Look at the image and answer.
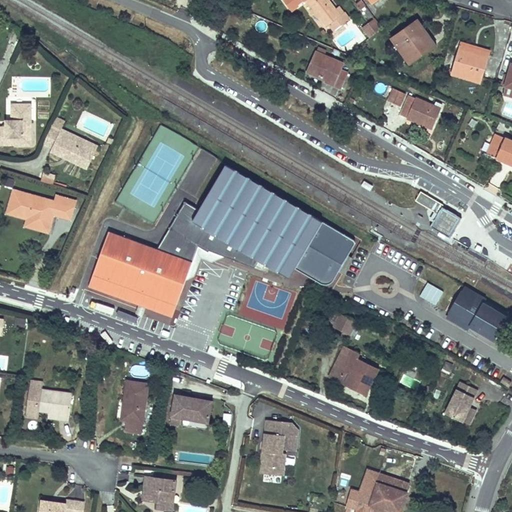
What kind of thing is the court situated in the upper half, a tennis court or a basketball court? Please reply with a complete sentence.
It turns out the court situated in the upper half is a tennis court.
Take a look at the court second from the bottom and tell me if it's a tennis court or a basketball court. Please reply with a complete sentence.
The court second from the bottom appears to be a basketball court.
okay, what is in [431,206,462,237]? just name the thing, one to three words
building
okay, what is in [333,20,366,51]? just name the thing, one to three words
swimming pool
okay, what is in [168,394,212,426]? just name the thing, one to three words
house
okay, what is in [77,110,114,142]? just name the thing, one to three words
swimming pool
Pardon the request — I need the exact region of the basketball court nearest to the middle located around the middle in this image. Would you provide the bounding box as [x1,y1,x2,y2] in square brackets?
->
[238,275,296,332]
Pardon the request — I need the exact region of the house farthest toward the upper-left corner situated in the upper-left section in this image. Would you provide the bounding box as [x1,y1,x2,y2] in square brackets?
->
[0,103,36,148]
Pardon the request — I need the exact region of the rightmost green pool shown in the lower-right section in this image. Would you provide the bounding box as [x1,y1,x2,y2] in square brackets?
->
[400,374,421,390]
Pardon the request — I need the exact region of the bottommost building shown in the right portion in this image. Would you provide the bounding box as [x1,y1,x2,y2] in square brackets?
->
[344,468,410,512]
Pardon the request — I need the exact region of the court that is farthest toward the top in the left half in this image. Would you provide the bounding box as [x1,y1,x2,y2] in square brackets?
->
[114,124,200,224]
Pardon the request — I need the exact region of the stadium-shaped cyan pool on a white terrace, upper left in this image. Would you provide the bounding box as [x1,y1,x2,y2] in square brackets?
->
[6,76,51,121]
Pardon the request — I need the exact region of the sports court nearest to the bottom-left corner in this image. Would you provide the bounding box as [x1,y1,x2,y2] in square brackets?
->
[217,316,278,361]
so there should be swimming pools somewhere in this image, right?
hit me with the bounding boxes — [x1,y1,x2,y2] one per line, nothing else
[129,364,149,378]
[174,450,214,467]
[374,82,388,95]
[333,20,366,51]
[0,481,14,512]
[0,356,9,370]
[256,20,268,32]
[400,374,421,390]
[176,504,210,512]
[77,110,114,142]
[500,96,512,120]
[6,76,51,121]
